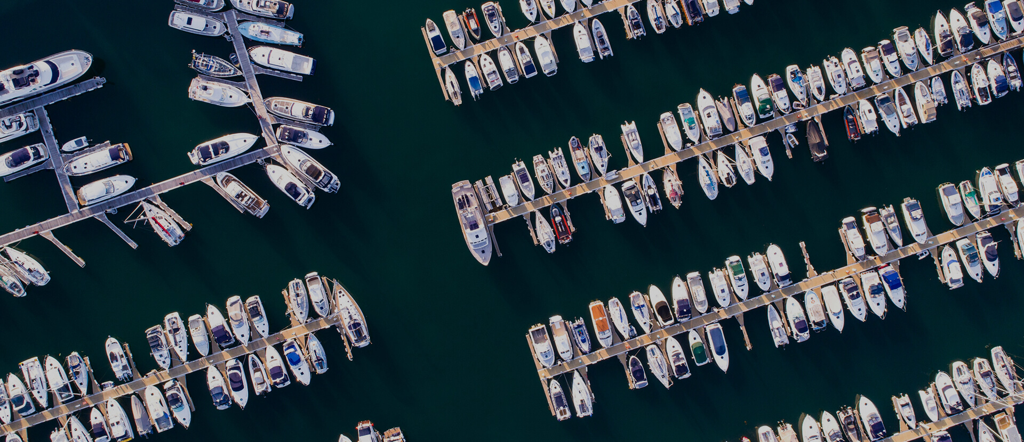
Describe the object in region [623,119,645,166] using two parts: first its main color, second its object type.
white boat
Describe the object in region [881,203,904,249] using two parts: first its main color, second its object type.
white boat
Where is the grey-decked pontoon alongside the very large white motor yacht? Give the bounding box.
[0,77,105,120]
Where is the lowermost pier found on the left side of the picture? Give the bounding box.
[0,276,353,442]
